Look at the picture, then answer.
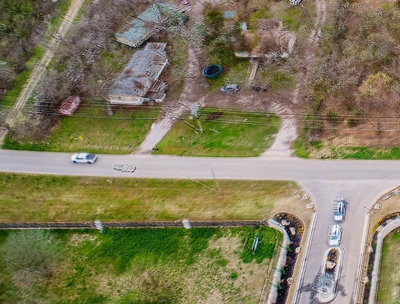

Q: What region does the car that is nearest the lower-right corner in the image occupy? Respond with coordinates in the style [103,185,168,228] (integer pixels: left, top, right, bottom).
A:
[325,221,344,246]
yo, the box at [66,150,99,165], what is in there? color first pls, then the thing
white vehicle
